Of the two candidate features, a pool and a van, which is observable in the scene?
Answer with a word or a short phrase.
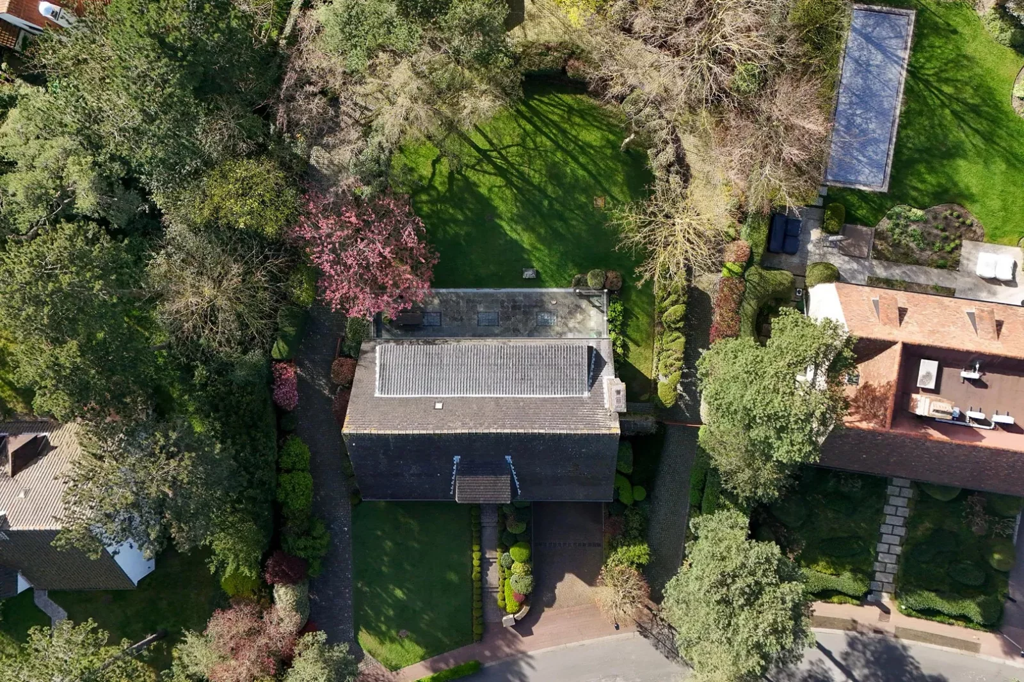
pool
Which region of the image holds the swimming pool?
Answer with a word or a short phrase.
top right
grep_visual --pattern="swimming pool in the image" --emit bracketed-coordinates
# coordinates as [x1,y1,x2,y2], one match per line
[823,5,915,192]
